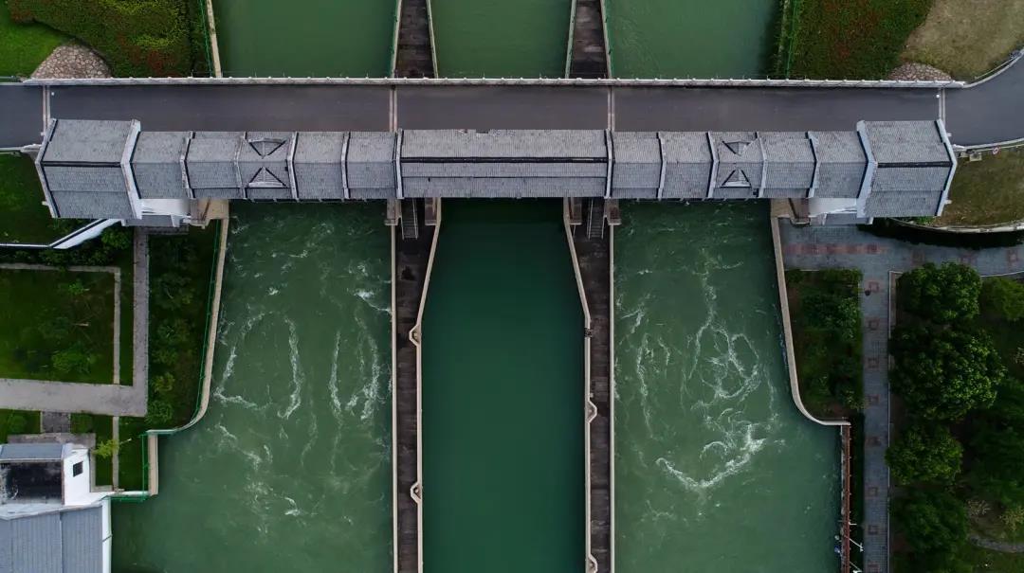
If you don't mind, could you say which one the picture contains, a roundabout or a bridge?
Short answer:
bridge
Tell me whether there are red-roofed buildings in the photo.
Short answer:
No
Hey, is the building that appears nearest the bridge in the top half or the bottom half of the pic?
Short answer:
top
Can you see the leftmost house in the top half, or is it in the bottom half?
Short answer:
bottom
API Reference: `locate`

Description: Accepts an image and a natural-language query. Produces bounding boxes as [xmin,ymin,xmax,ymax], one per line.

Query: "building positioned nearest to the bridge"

[30,118,961,231]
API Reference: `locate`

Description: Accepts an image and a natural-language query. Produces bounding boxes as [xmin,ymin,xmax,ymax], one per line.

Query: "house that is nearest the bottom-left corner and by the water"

[0,443,118,573]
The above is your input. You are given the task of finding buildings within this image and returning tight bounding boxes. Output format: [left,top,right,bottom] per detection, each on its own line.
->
[30,118,961,231]
[0,443,118,573]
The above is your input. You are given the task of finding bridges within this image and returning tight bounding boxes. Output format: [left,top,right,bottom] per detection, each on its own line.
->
[24,75,964,131]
